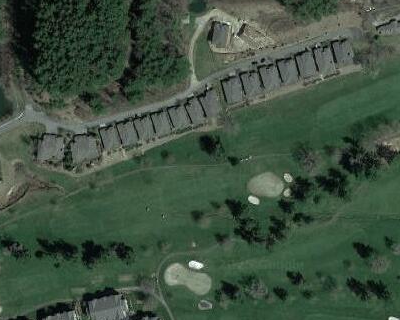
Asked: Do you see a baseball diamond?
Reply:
No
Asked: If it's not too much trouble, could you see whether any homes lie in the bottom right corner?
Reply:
No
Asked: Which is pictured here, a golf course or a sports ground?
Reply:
golf course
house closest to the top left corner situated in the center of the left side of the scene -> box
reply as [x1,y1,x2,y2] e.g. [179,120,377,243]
[40,136,65,162]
